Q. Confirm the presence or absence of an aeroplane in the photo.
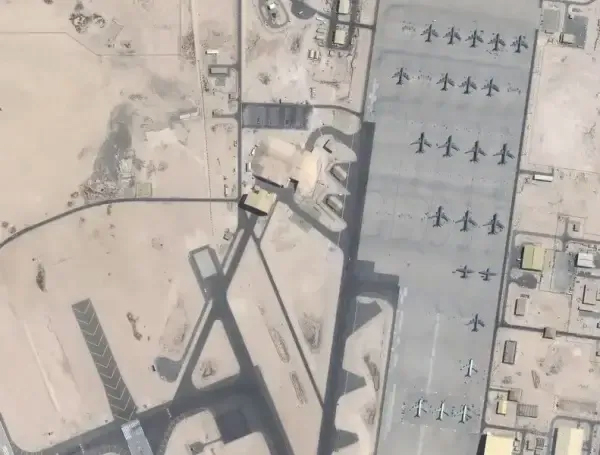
Yes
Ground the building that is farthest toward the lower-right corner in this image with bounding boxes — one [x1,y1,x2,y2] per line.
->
[555,427,585,455]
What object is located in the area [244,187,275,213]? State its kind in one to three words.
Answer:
hangar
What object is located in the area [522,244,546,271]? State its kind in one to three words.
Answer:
hangar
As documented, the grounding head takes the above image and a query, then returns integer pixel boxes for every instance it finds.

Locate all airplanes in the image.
[455,210,476,232]
[467,314,483,331]
[411,132,431,153]
[442,26,460,45]
[465,141,486,162]
[437,73,454,91]
[482,78,499,96]
[432,402,449,420]
[421,24,438,42]
[459,76,476,94]
[478,268,496,281]
[454,405,471,423]
[493,143,513,165]
[461,360,478,378]
[483,214,503,235]
[429,206,449,228]
[391,67,409,85]
[488,33,505,51]
[410,399,427,418]
[456,265,475,279]
[438,136,459,157]
[510,35,527,53]
[465,29,482,47]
